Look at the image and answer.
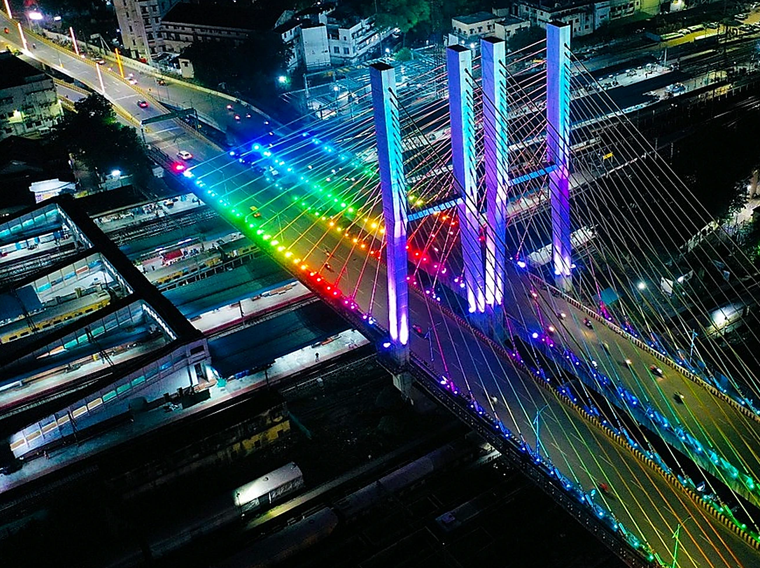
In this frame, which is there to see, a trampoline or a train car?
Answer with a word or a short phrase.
train car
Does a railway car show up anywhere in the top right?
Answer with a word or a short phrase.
Yes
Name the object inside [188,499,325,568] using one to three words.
rail car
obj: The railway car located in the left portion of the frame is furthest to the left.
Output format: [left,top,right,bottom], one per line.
[0,291,103,344]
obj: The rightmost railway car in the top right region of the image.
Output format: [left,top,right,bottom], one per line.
[688,82,743,108]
